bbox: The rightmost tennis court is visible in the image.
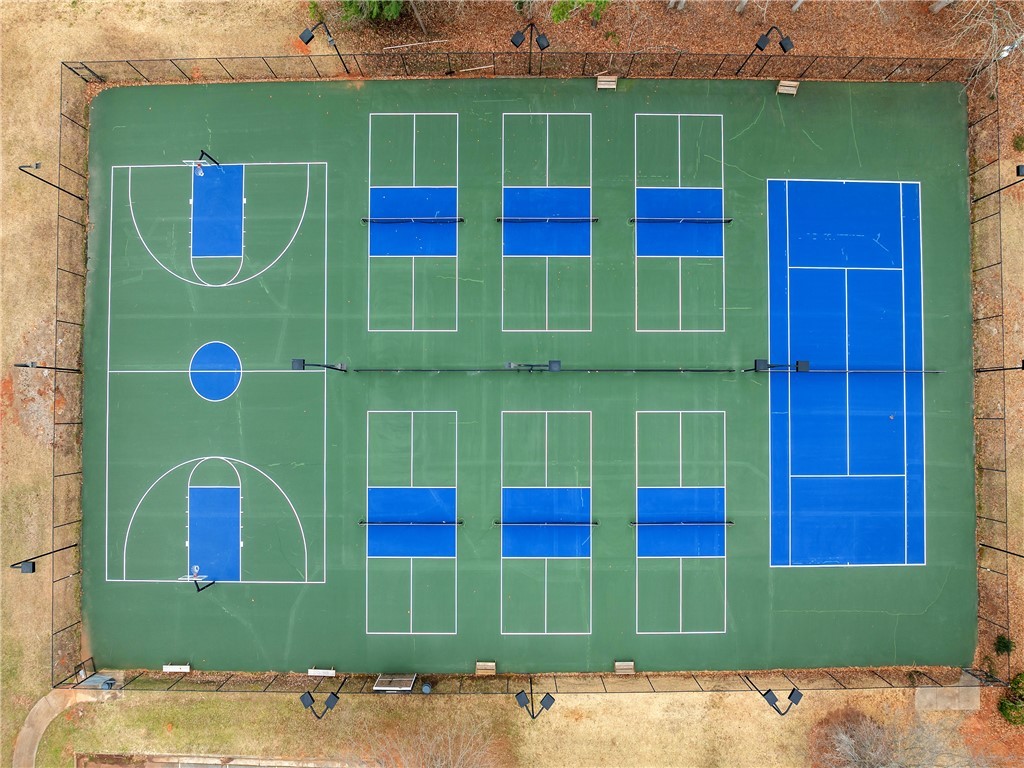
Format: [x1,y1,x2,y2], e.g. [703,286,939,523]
[767,179,926,568]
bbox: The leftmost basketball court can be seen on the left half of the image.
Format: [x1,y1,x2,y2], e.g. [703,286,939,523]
[105,162,328,583]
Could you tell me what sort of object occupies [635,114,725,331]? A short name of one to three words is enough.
sports court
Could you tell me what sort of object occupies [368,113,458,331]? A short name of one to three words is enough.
sports court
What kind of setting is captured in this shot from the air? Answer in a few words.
sports ground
